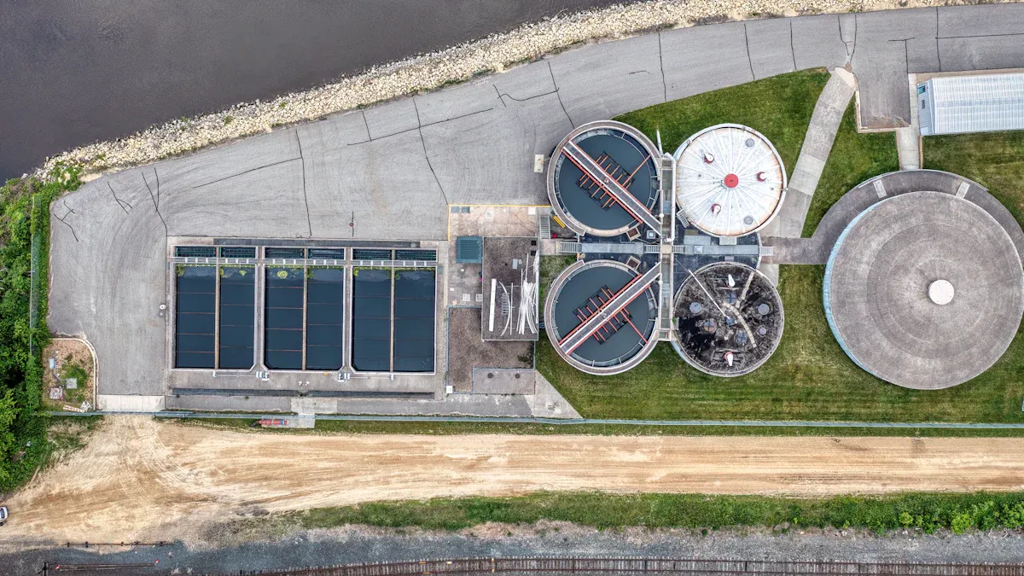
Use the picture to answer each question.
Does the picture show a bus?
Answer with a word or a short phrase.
No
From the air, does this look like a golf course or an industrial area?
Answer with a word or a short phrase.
industrial area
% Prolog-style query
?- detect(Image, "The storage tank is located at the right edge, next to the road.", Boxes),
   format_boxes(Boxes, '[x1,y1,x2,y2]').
[823,191,1024,389]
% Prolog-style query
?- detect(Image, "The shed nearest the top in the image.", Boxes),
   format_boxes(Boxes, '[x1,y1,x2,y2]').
[917,72,1024,135]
